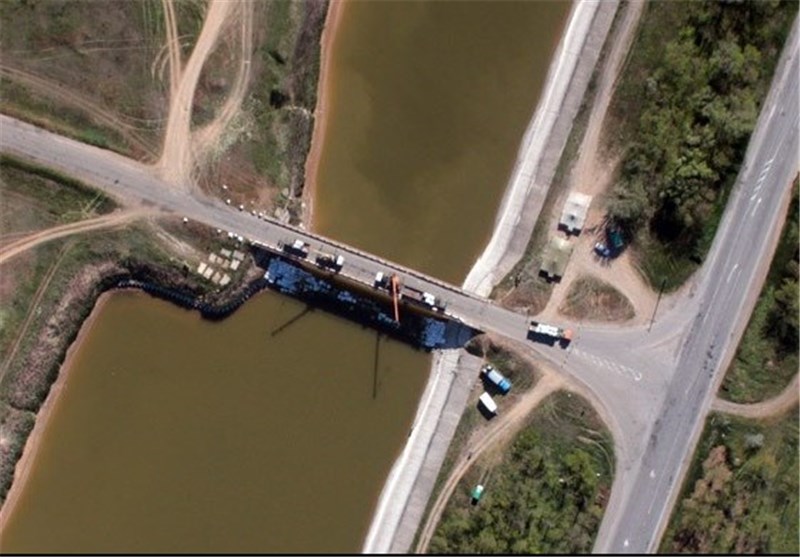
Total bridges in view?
1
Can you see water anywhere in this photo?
Yes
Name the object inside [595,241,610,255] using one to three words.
car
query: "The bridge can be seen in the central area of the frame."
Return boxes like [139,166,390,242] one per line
[256,215,488,326]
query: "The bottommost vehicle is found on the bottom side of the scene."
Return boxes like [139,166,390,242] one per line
[472,484,484,502]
